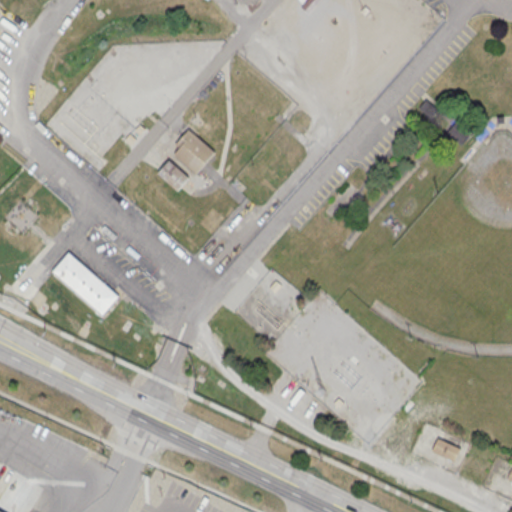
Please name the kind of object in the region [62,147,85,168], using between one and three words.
truck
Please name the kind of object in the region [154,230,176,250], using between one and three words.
vehicle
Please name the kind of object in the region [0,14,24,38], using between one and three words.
truck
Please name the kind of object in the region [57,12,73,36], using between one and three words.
vehicle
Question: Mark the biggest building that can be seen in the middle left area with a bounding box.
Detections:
[52,252,122,318]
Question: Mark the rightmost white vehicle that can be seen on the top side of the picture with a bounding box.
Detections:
[336,163,350,178]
